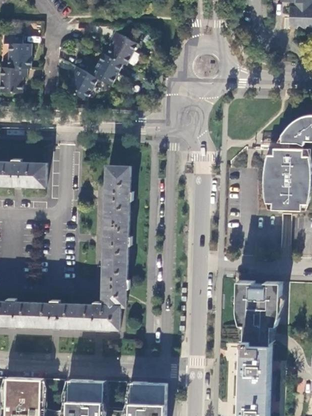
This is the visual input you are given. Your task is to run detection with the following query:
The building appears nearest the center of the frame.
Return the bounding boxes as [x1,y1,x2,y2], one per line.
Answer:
[100,166,137,310]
